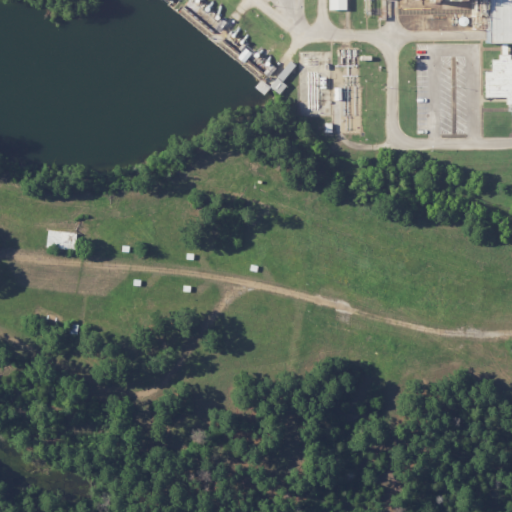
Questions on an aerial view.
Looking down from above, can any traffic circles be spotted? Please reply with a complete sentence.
No, no traffic circle can be seen from above.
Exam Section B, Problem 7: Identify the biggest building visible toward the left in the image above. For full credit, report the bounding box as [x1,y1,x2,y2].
[46,230,76,250]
